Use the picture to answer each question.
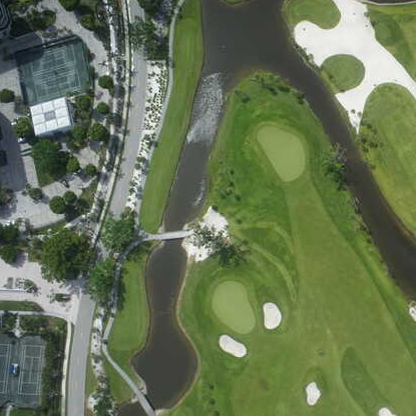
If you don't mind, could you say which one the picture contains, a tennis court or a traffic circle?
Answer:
tennis court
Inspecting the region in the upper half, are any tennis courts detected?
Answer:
Yes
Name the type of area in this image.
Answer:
golf course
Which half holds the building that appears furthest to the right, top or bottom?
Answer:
top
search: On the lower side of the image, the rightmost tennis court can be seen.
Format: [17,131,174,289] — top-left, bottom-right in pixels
[12,332,49,407]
